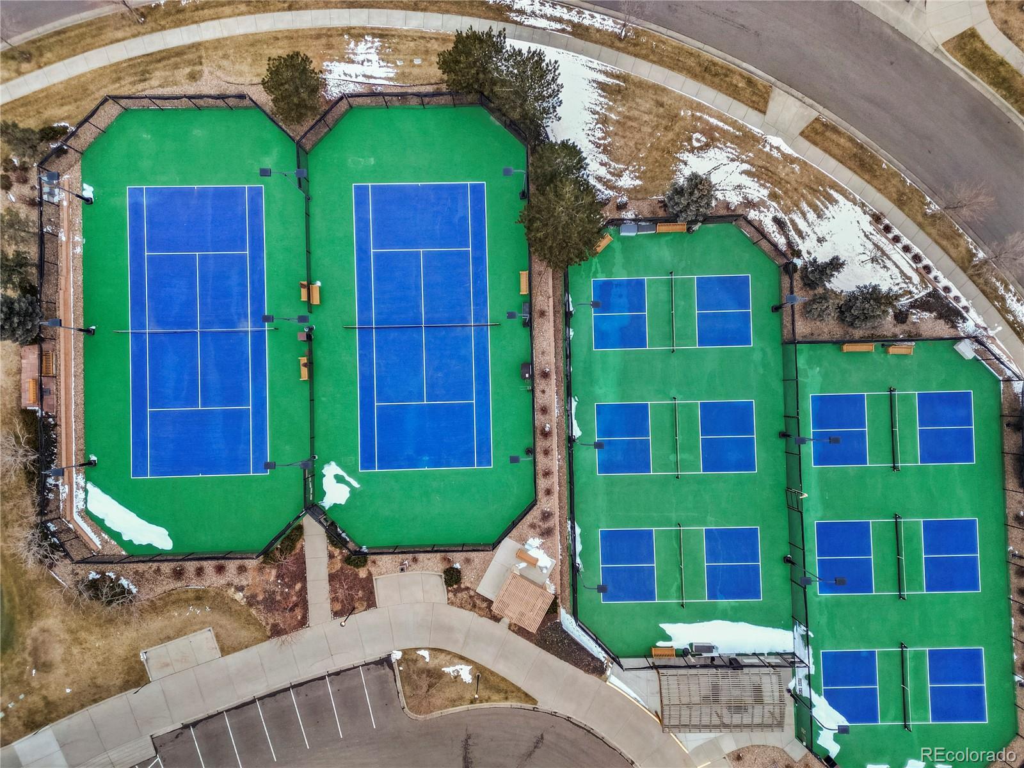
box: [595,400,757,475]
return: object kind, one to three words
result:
sports court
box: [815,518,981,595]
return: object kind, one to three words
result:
sports court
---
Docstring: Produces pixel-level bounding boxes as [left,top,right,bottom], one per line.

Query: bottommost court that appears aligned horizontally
[821,648,988,725]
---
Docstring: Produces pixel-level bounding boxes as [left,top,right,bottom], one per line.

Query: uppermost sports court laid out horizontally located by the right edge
[810,391,976,467]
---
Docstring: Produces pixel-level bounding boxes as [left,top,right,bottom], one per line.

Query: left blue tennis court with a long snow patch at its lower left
[82,106,314,555]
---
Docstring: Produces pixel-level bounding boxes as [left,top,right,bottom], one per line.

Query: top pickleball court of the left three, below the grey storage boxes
[592,274,753,350]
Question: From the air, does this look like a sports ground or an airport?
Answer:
sports ground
